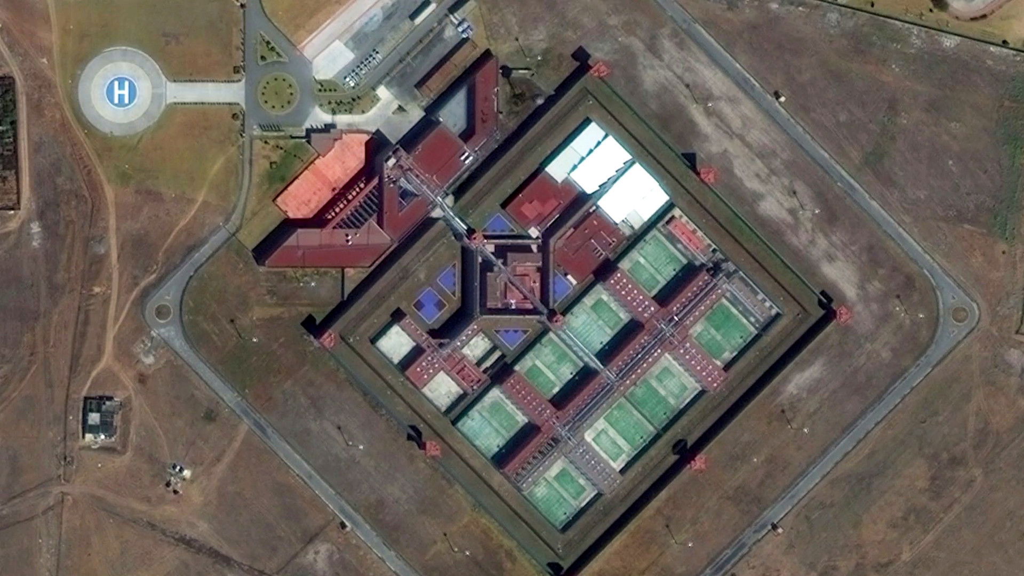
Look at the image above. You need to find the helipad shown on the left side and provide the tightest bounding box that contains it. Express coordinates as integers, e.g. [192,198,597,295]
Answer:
[78,46,165,135]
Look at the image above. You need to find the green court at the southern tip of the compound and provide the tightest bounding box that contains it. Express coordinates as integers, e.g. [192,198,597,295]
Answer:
[523,457,598,530]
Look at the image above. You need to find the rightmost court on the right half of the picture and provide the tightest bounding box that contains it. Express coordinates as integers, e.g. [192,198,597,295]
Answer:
[693,297,759,366]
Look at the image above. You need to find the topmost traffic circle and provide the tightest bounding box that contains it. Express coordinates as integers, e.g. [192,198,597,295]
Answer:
[257,72,299,114]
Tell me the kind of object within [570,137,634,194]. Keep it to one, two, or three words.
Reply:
building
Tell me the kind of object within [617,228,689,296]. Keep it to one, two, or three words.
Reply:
sports court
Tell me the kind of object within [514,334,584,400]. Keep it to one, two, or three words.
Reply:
sports court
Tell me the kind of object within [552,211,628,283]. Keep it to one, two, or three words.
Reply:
building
